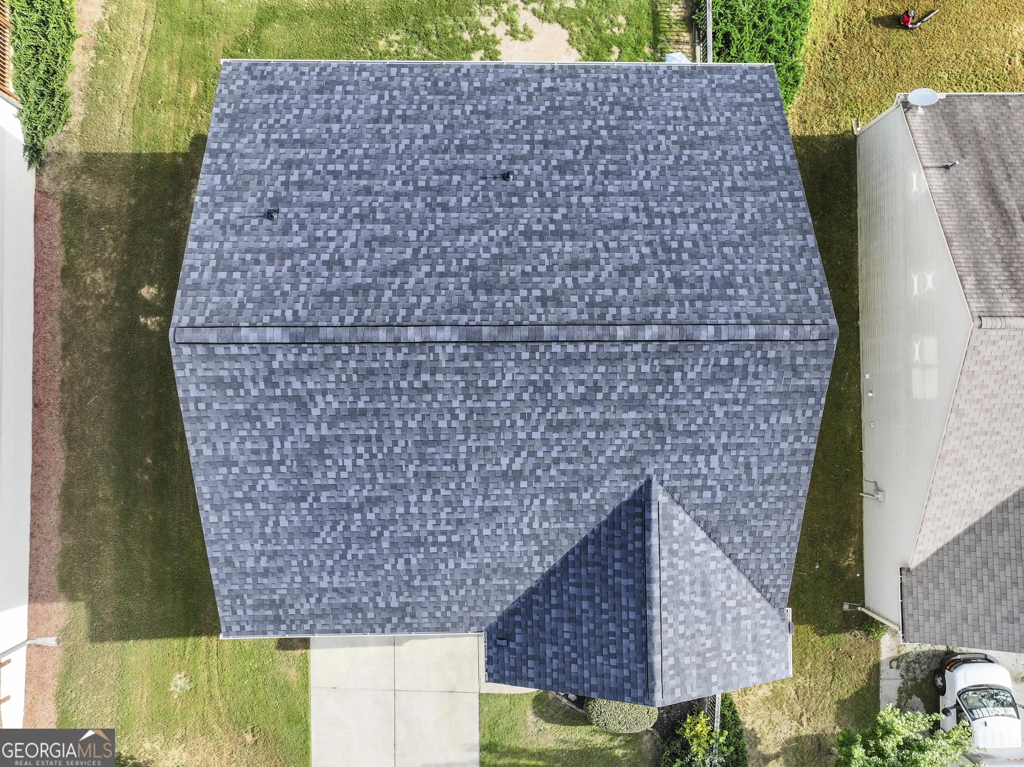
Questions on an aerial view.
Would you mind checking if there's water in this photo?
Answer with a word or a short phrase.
No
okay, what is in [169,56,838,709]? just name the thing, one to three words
house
